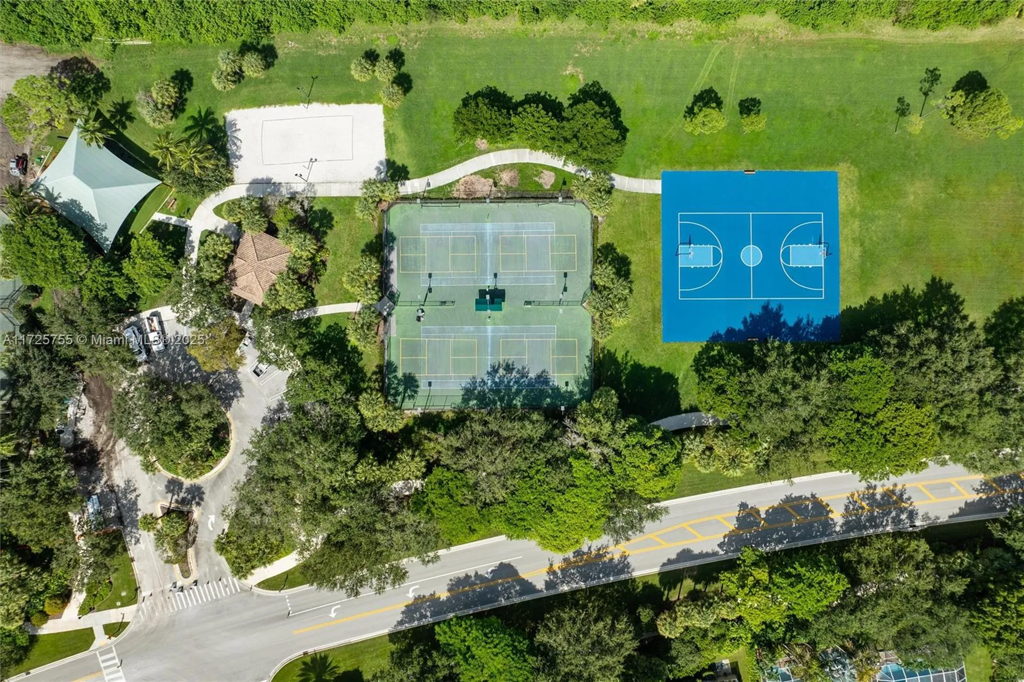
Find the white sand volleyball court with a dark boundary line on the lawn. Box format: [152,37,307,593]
[226,103,386,183]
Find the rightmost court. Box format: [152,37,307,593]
[661,170,840,342]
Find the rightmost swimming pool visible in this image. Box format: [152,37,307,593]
[876,652,965,682]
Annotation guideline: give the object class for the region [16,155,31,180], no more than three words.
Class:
work vehicle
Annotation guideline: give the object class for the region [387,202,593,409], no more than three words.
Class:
tennis court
